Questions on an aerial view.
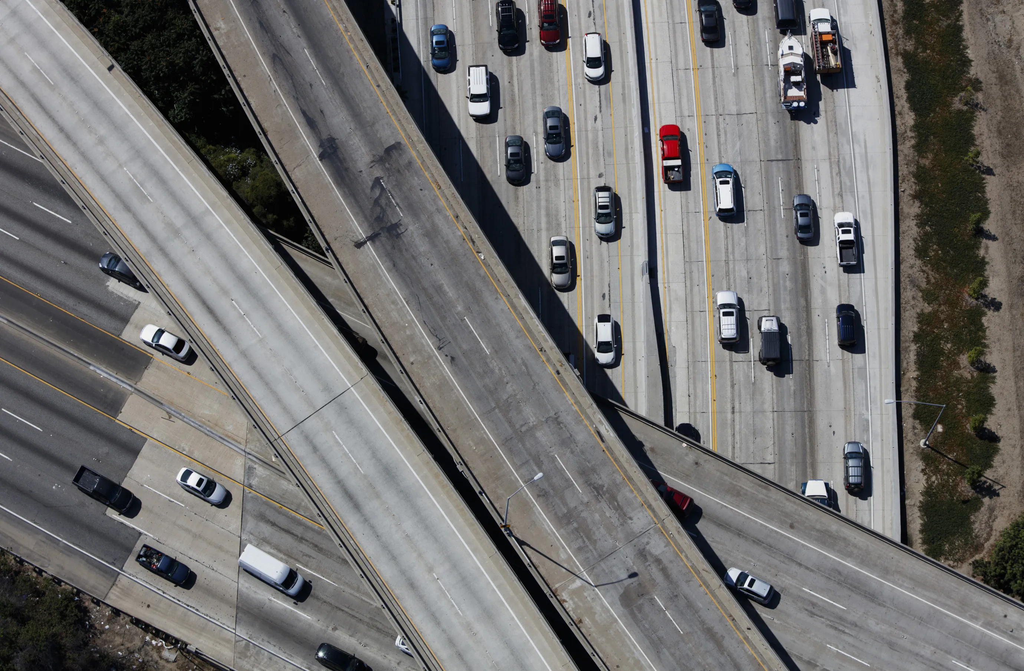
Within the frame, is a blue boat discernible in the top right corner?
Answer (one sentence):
No, in the top right corner there is no blue boat.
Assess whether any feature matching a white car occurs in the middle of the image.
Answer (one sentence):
Yes, a white car can be seen in the middle of the image.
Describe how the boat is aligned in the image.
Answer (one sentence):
In this picture, the boat is oriented vertically.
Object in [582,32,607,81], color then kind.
white car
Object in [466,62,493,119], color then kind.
white car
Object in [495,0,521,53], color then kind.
black car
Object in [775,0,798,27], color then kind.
black truck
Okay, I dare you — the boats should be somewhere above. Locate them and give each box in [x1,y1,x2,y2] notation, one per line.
[778,34,807,112]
